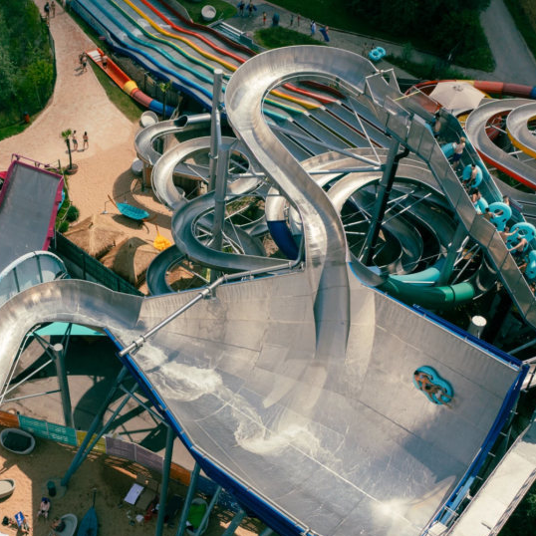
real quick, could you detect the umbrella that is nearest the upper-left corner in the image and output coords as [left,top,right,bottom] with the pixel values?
[62,214,128,258]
